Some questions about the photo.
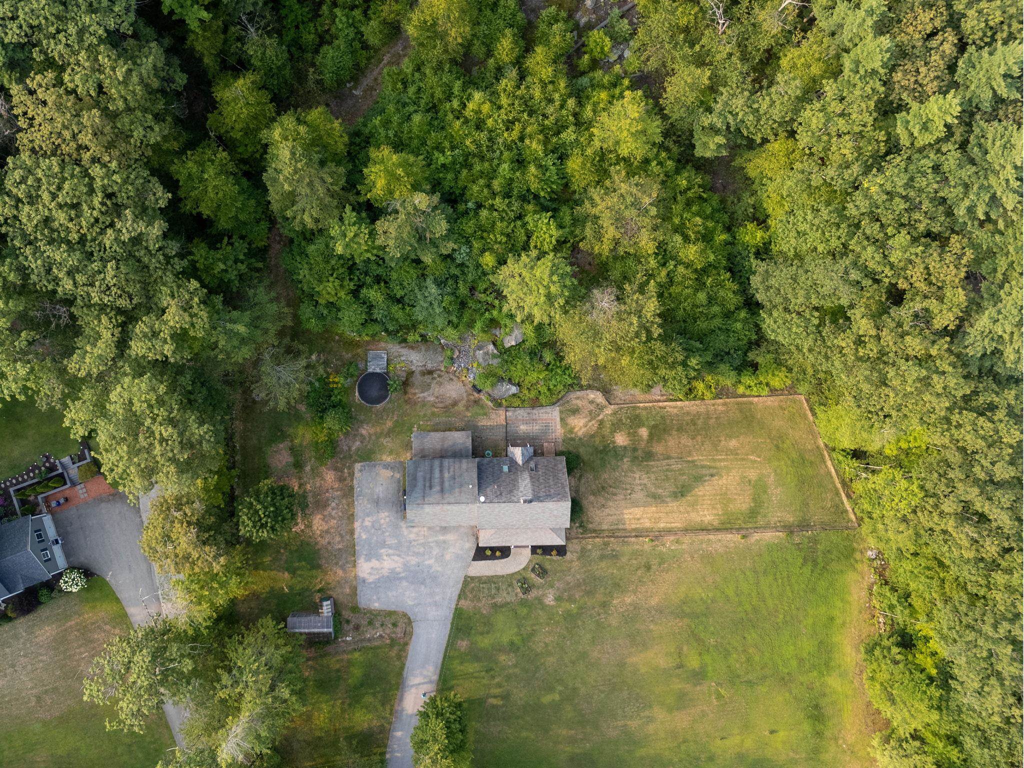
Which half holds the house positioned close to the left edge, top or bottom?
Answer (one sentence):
The house positioned close to the left edge is in the bottom half of the image.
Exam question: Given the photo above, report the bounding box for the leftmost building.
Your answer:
[0,513,69,608]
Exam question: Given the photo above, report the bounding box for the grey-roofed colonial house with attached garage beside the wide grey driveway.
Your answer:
[404,431,571,550]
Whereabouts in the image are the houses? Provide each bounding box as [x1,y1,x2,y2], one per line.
[0,513,69,608]
[404,431,571,550]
